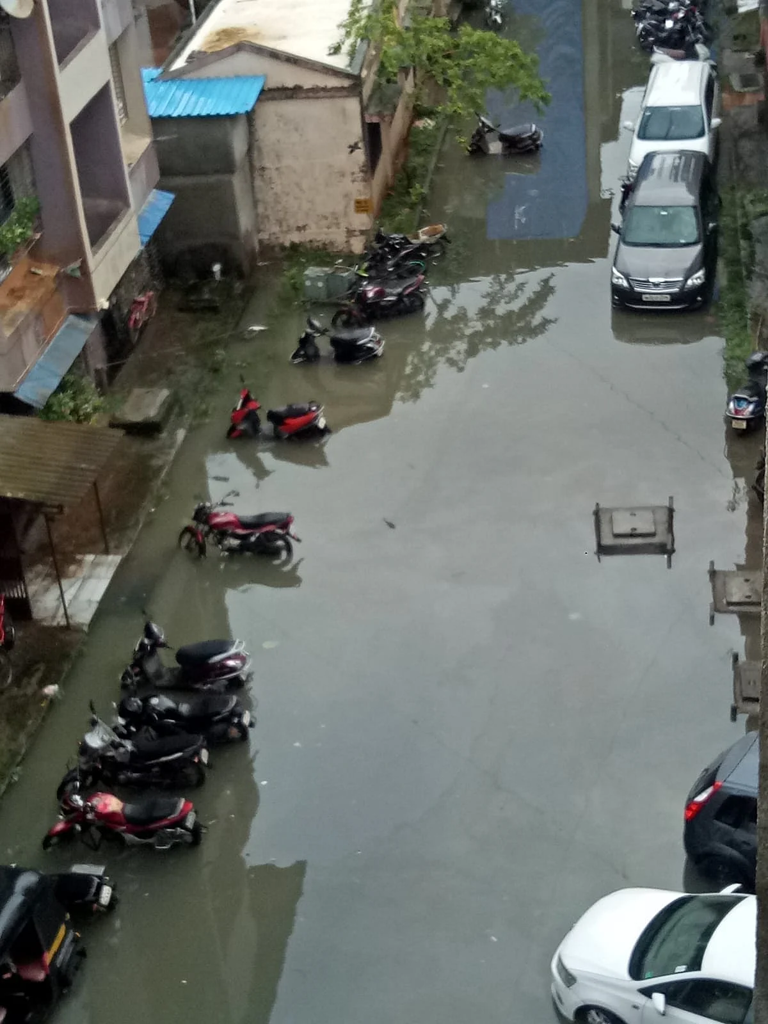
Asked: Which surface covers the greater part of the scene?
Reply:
water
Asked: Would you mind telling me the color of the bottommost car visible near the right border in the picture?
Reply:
white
